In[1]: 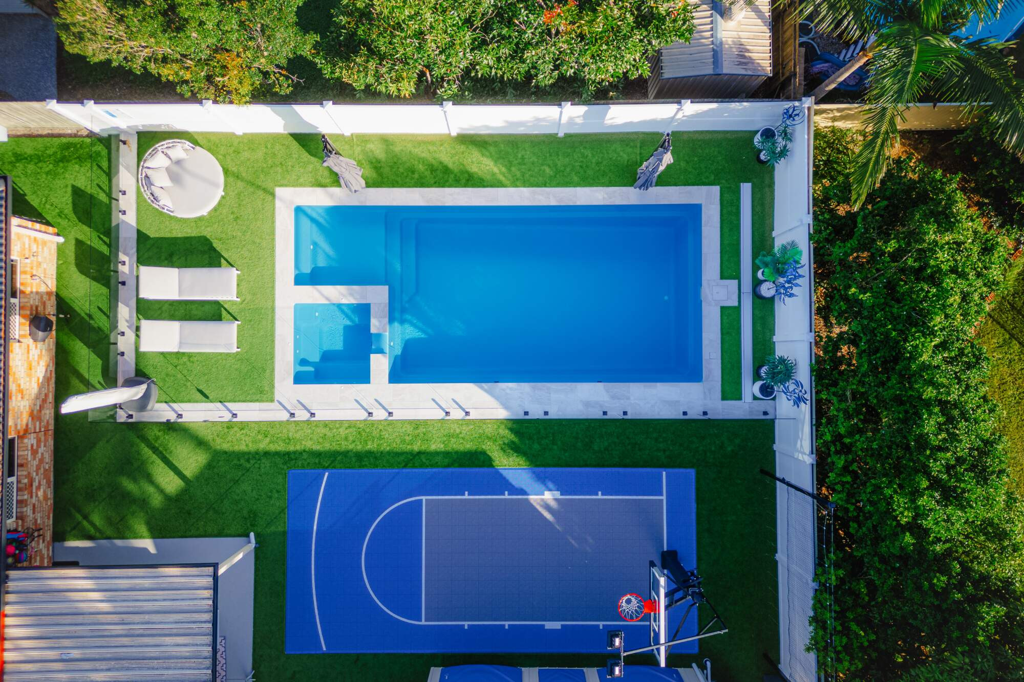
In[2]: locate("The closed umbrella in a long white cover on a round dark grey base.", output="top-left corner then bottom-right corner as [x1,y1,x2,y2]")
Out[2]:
[62,378,158,412]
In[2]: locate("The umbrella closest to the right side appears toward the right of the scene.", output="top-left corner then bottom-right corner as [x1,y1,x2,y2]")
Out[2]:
[632,142,668,186]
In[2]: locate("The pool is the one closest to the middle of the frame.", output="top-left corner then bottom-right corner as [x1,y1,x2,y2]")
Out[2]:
[116,133,776,420]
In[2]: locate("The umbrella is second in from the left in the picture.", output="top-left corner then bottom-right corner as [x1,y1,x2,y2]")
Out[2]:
[322,143,362,188]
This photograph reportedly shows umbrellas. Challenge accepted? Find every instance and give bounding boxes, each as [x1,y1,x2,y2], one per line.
[322,143,362,188]
[632,142,668,186]
[62,378,158,412]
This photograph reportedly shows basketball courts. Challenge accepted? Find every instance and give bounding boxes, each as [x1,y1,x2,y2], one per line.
[284,469,699,654]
